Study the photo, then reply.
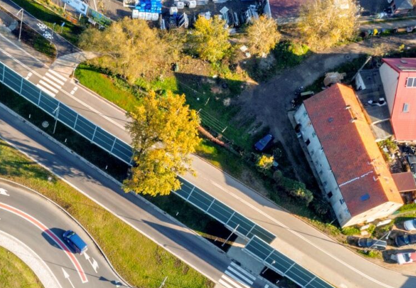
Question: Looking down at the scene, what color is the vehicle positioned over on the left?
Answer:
blue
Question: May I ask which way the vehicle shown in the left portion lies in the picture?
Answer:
diagonally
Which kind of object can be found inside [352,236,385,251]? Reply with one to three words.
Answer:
car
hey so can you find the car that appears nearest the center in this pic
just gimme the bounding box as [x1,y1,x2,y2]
[256,133,274,153]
